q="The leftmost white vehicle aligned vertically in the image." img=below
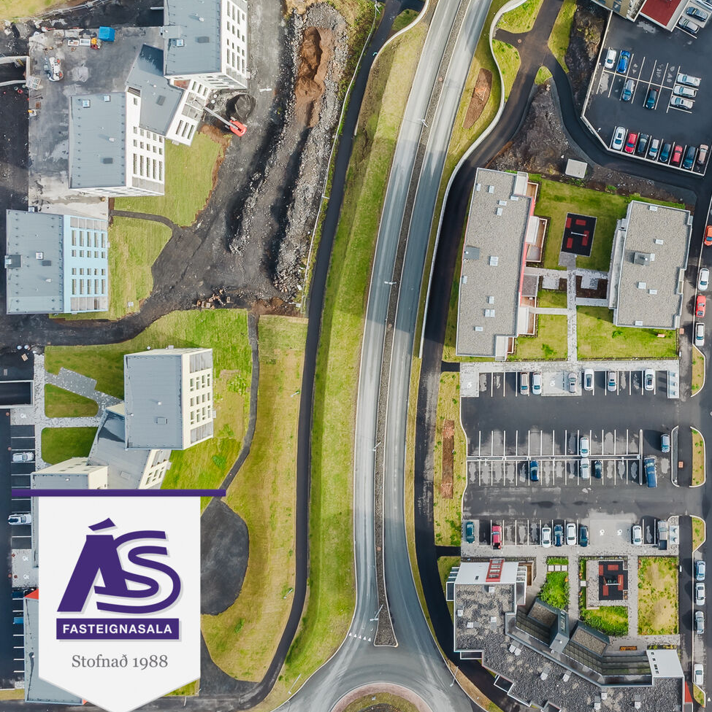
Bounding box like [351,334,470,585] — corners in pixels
[47,54,65,83]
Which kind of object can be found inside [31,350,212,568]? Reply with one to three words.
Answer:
building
